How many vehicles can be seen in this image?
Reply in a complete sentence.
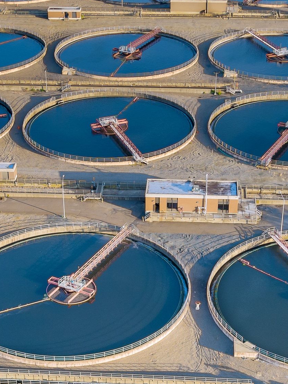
The photo contains no vehicles.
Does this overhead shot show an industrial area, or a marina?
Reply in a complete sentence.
The area seen from above is an industrial area.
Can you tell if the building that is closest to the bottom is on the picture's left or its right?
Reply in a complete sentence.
The building that is closest to the bottom sits on the right side.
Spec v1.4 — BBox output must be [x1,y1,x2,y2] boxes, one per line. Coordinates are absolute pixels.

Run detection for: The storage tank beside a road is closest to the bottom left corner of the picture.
[0,221,190,367]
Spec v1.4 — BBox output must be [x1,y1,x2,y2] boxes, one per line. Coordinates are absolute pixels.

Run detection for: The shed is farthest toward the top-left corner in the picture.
[48,5,82,18]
